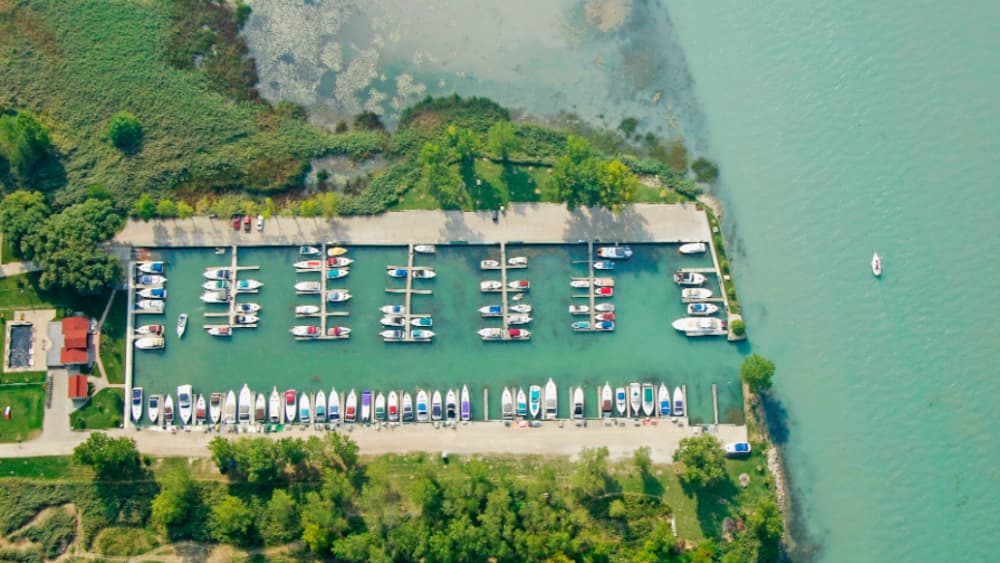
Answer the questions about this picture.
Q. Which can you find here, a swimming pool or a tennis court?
swimming pool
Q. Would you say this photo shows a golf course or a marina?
marina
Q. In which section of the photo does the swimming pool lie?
left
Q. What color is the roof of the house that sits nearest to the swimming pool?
red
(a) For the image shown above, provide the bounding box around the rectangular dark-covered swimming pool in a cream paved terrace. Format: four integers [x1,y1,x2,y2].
[3,310,56,373]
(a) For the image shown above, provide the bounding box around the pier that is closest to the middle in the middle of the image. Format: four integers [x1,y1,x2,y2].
[479,245,530,342]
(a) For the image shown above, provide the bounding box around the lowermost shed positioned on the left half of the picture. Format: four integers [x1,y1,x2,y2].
[68,375,89,399]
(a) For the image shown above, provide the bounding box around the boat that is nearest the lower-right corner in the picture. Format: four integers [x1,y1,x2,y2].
[727,441,751,454]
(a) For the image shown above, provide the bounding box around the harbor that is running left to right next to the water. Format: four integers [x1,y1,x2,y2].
[113,202,746,436]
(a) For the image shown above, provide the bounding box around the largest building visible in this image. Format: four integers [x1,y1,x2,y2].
[48,317,96,370]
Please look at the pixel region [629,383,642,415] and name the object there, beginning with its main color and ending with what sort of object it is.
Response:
white boat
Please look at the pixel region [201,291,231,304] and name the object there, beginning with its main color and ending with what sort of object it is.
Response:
white boat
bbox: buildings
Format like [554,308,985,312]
[68,375,89,399]
[48,317,96,370]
